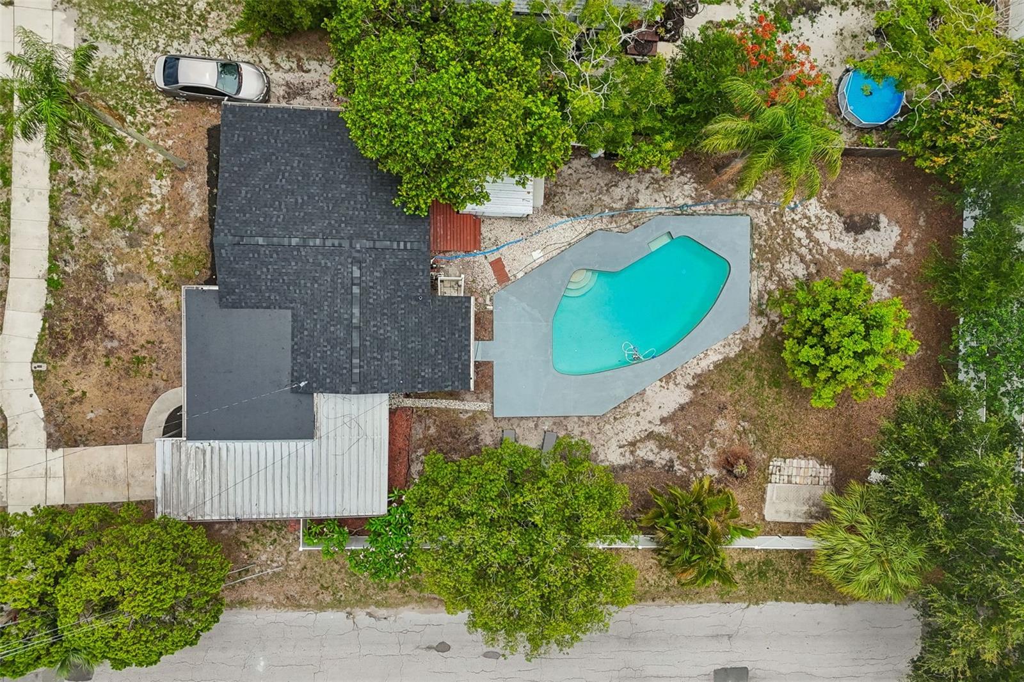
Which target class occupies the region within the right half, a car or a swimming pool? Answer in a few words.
swimming pool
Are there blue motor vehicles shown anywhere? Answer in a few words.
No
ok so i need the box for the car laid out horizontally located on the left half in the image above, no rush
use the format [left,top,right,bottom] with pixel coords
[148,48,273,105]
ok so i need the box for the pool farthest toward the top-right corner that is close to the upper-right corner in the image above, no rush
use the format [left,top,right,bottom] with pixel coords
[825,65,904,138]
